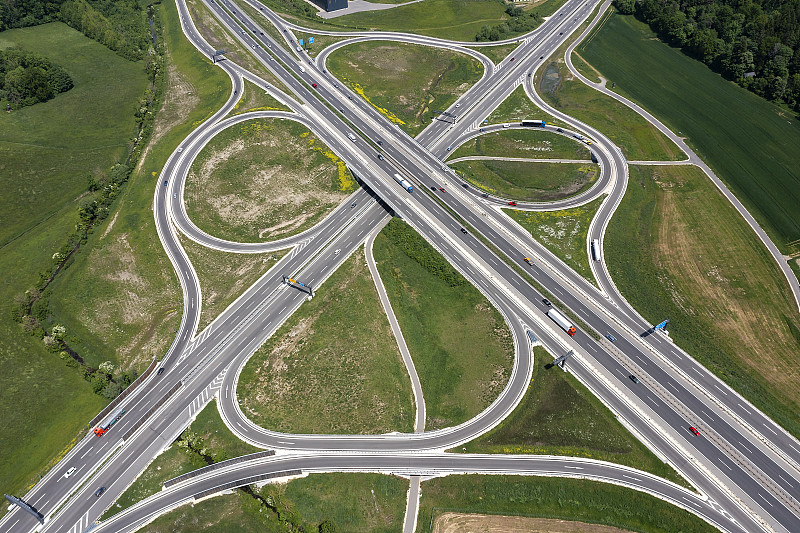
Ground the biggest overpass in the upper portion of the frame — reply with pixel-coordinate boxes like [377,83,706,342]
[345,128,470,222]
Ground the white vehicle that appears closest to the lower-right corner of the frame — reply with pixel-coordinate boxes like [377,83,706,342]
[548,307,576,335]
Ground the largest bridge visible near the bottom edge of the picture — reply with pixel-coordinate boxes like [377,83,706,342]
[149,455,293,519]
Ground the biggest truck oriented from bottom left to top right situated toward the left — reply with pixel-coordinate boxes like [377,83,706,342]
[94,406,127,438]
